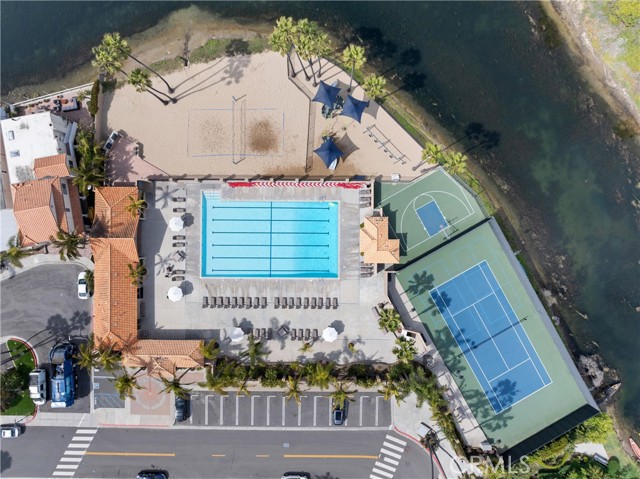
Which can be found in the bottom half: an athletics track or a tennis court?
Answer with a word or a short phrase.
tennis court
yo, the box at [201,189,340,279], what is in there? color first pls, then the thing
blue swimming pool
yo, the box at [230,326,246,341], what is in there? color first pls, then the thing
white umbrella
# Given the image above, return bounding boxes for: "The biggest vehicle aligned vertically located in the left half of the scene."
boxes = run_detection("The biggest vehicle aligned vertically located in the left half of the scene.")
[52,341,78,405]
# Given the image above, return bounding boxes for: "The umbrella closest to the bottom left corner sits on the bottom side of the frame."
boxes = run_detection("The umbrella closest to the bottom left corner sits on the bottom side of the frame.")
[168,286,183,301]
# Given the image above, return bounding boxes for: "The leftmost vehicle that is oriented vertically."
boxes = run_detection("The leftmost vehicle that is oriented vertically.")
[29,368,46,402]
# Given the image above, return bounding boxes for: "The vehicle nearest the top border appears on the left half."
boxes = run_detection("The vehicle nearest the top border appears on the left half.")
[76,271,91,300]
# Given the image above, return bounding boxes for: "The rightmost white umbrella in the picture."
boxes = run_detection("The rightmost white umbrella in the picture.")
[322,326,338,341]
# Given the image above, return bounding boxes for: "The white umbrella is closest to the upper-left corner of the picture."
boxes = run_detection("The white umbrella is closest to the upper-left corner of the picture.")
[170,216,185,231]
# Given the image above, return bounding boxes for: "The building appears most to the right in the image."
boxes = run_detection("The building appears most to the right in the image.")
[359,210,401,265]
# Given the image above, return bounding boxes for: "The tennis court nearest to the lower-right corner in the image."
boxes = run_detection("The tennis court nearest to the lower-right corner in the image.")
[398,222,589,454]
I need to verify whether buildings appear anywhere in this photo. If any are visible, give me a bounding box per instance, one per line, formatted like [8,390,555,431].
[359,210,401,265]
[1,112,89,251]
[88,186,206,377]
